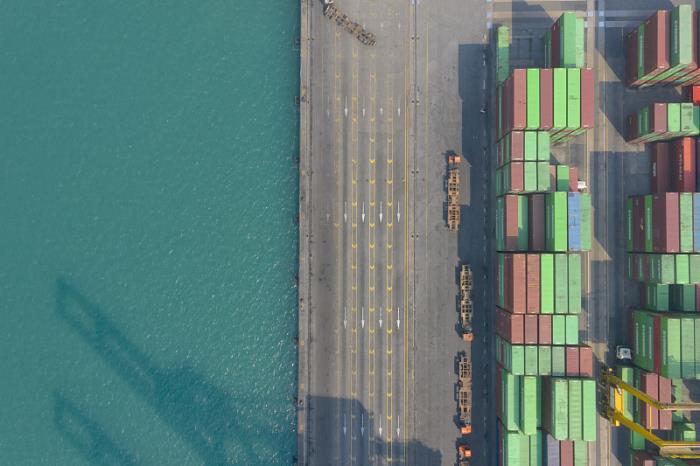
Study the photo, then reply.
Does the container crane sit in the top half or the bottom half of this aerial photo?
bottom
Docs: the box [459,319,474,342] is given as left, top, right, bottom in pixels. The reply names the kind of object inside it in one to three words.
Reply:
work vehicle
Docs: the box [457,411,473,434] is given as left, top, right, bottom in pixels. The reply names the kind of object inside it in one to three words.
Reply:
work vehicle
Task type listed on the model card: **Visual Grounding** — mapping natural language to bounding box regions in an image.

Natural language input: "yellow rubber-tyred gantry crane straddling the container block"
[599,365,700,460]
